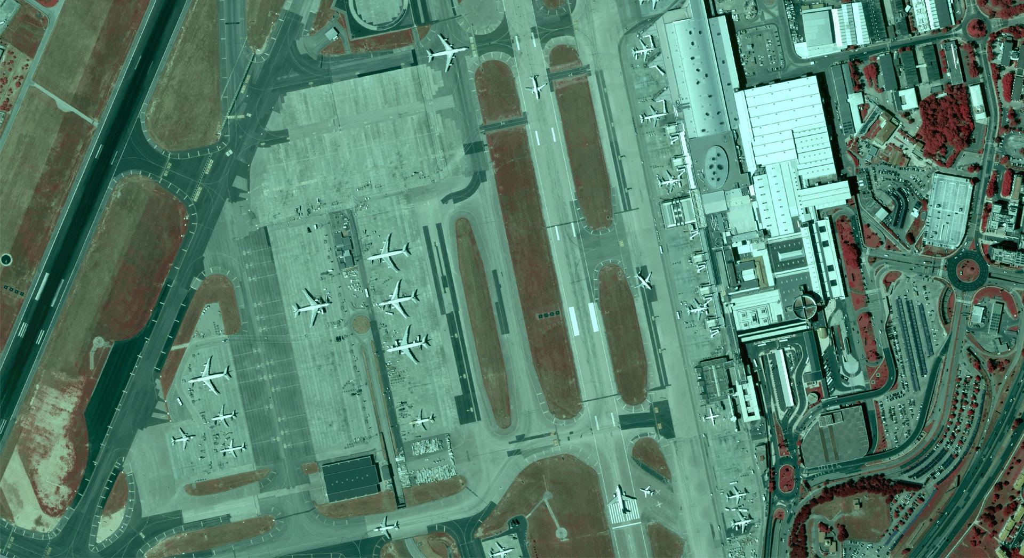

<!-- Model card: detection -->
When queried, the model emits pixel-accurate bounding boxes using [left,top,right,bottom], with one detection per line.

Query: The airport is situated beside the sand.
[70,0,768,558]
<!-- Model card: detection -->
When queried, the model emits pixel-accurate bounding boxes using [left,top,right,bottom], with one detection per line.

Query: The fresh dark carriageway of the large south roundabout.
[948,251,988,291]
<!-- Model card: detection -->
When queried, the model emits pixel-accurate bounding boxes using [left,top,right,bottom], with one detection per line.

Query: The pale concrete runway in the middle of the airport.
[503,0,648,558]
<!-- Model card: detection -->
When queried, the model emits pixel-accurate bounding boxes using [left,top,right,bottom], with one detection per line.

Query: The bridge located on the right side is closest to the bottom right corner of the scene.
[795,347,895,429]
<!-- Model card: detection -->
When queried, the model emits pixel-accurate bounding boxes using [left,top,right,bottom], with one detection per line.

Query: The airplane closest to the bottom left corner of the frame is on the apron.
[171,429,195,450]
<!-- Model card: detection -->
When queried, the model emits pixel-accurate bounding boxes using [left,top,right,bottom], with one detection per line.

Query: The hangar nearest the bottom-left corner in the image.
[323,456,380,503]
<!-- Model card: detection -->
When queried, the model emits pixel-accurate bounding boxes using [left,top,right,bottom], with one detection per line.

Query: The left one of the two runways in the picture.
[0,0,186,442]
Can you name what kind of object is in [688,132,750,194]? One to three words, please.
building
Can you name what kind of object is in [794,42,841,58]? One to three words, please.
building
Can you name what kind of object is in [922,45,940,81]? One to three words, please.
shed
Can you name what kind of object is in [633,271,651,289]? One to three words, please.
airplane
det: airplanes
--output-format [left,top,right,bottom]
[387,324,432,364]
[220,439,247,459]
[212,404,238,427]
[171,429,195,450]
[725,487,748,506]
[633,271,651,289]
[609,484,638,514]
[730,512,752,534]
[292,288,331,328]
[427,33,469,73]
[524,75,547,99]
[640,106,668,128]
[687,299,708,321]
[639,0,656,11]
[703,410,719,426]
[657,171,682,195]
[640,486,655,498]
[378,279,420,318]
[488,541,515,558]
[367,232,411,273]
[188,356,232,396]
[374,516,400,538]
[631,40,654,61]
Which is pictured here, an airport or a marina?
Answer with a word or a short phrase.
airport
